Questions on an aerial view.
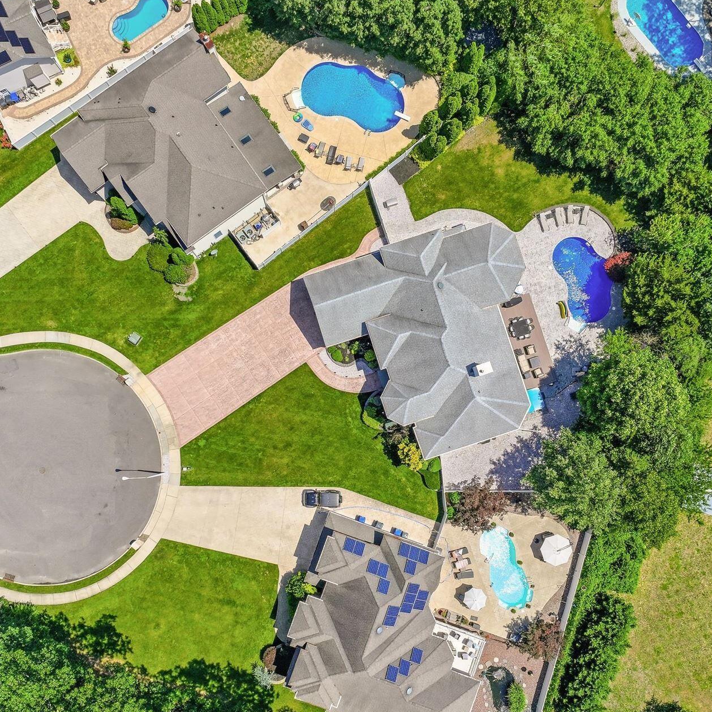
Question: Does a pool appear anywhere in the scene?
Yes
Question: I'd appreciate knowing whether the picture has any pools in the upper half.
Yes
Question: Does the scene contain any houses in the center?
Yes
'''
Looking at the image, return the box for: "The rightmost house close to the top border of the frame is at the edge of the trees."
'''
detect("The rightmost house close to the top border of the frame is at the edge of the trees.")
[51,24,302,255]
